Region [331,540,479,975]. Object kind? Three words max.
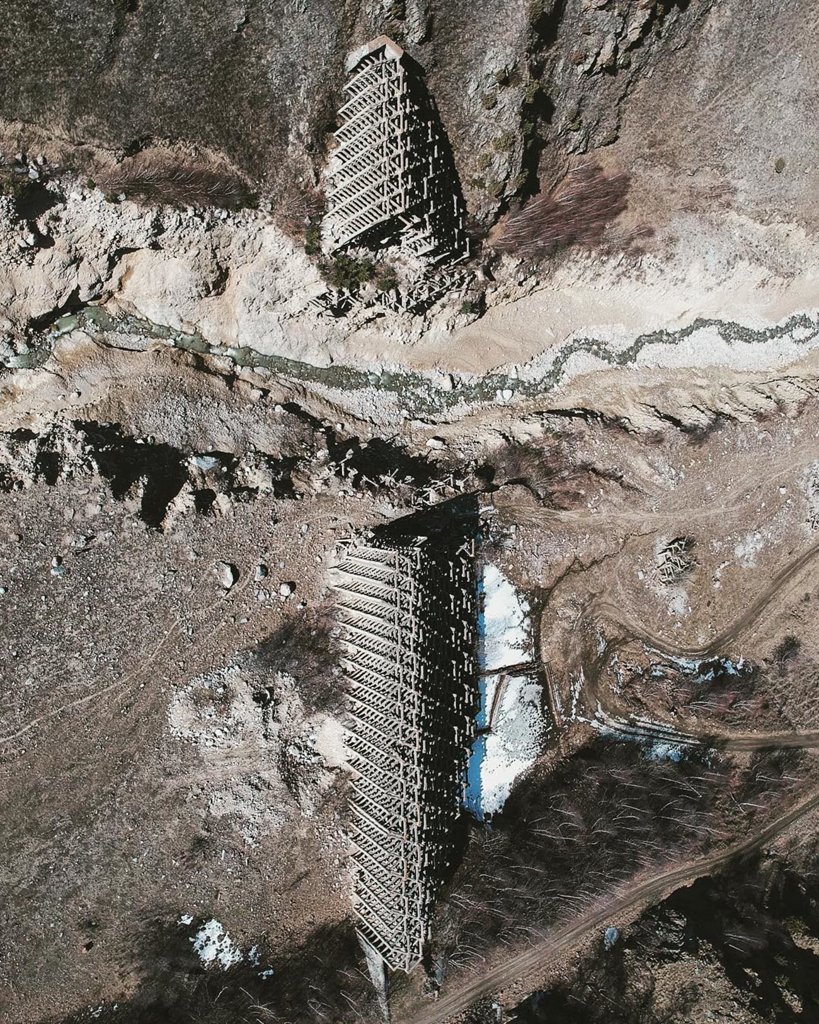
dam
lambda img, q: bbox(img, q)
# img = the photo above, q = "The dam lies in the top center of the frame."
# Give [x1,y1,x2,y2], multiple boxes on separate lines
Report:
[321,58,463,253]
